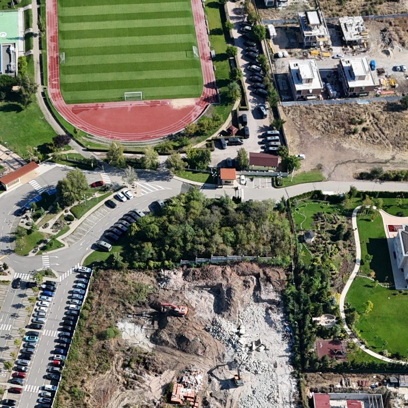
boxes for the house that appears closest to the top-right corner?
[337,16,368,52]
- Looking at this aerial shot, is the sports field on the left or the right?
left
